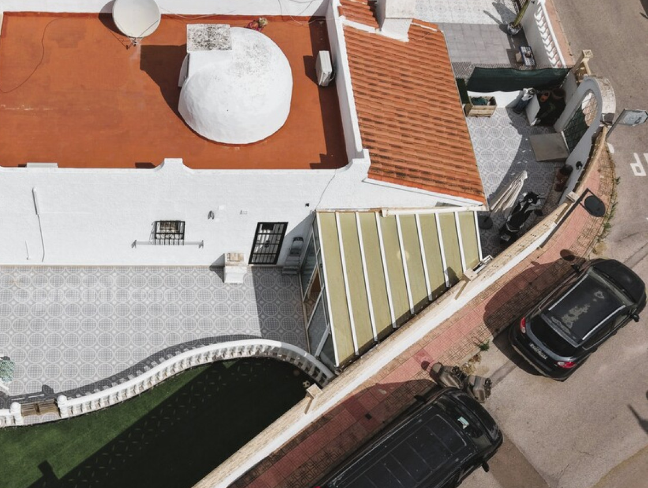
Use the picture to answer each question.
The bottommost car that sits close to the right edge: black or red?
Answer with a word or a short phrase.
black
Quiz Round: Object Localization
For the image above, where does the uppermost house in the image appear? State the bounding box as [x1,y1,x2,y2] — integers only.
[0,0,490,265]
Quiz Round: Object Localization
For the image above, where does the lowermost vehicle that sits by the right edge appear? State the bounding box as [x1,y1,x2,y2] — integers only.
[520,253,648,372]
